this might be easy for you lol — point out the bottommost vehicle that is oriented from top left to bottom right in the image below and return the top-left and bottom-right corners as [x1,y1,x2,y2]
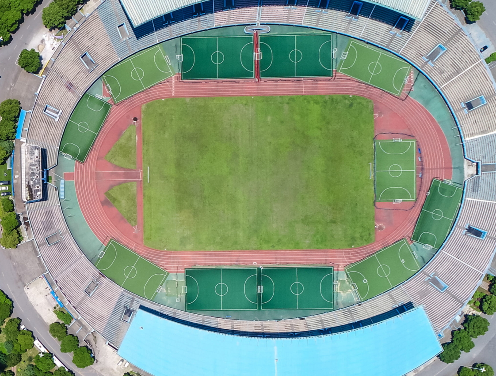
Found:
[52,354,70,370]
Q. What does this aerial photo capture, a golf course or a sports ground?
sports ground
